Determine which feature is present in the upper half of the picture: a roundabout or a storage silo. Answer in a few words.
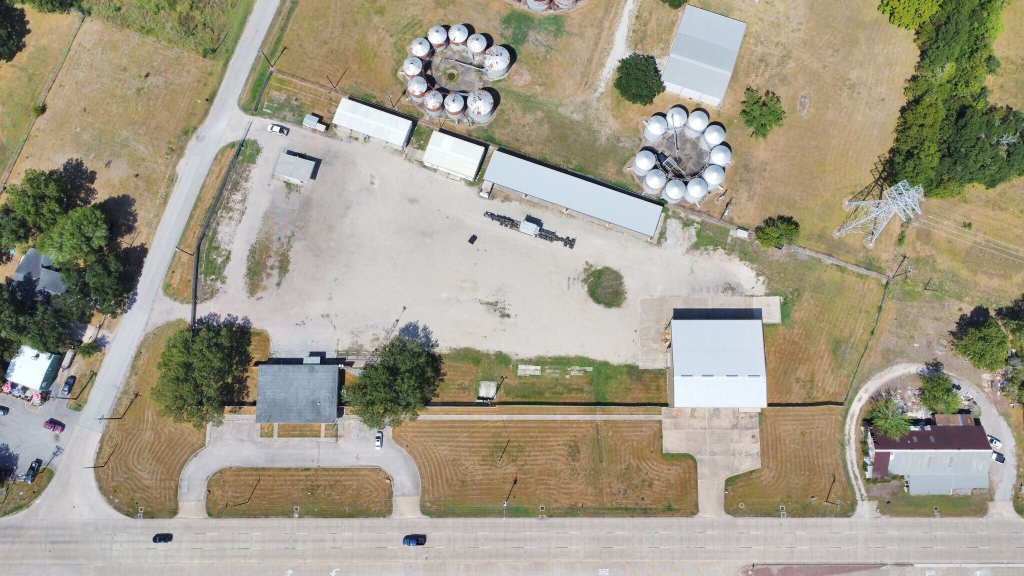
storage silo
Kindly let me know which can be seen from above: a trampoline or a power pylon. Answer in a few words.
power pylon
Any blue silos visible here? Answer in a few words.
No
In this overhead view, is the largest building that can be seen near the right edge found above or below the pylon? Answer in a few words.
below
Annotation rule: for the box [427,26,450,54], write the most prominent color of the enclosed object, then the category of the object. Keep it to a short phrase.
white silo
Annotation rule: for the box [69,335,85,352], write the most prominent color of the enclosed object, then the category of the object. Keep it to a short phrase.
black car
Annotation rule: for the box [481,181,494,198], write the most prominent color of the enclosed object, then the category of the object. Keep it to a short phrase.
white vehicle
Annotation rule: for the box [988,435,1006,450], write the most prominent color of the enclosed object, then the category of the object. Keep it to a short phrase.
white car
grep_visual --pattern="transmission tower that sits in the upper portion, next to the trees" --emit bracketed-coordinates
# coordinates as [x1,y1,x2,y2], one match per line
[836,181,924,246]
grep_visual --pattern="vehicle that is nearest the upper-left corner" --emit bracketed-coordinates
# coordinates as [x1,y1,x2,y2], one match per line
[267,124,289,136]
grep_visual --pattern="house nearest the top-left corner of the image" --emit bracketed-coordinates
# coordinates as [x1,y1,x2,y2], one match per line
[9,249,62,302]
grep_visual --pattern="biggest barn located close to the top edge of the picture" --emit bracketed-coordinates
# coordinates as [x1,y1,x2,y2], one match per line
[660,5,746,106]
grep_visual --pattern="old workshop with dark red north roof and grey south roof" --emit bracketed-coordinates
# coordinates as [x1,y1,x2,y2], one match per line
[862,425,992,495]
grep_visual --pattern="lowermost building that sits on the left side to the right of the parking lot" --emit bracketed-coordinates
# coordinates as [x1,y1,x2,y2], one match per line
[255,355,355,423]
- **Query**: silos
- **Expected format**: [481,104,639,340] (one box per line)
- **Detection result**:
[705,145,734,171]
[397,56,426,81]
[403,76,430,104]
[665,108,687,135]
[641,169,671,199]
[684,177,710,210]
[410,39,433,67]
[467,34,487,62]
[638,115,668,142]
[699,125,725,156]
[699,164,728,197]
[444,93,466,127]
[423,90,445,123]
[678,111,709,138]
[466,89,495,124]
[448,24,468,53]
[427,26,450,54]
[660,179,686,205]
[624,150,656,177]
[483,45,511,81]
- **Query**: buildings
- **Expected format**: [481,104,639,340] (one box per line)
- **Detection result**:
[422,131,485,182]
[667,320,768,415]
[255,355,355,423]
[9,249,62,302]
[5,344,62,390]
[862,425,992,495]
[273,153,316,185]
[333,98,413,151]
[482,149,664,244]
[303,114,321,131]
[660,5,746,106]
